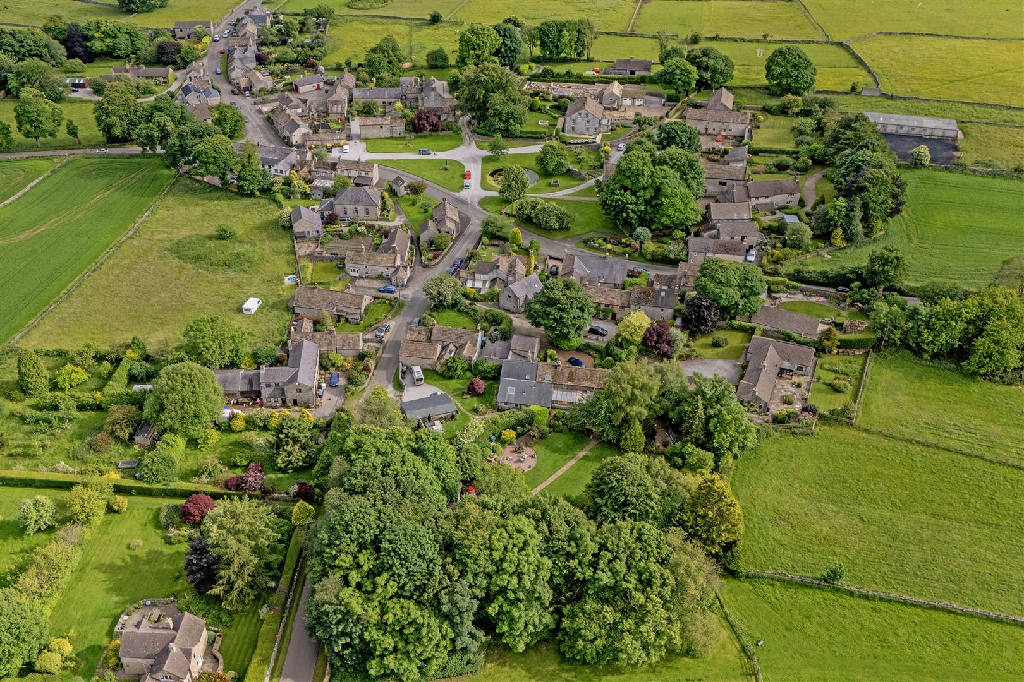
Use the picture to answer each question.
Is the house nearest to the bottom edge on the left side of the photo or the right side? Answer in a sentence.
The house nearest to the bottom edge sits on the left side.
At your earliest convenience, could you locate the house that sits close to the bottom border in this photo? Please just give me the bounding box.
[119,611,218,682]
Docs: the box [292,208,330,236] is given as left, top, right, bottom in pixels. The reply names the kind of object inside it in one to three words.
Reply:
building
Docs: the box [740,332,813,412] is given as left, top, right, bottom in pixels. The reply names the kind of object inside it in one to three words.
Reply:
house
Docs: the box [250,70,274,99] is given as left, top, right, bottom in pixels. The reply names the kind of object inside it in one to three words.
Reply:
house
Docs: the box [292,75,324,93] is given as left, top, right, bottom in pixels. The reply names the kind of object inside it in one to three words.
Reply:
barn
